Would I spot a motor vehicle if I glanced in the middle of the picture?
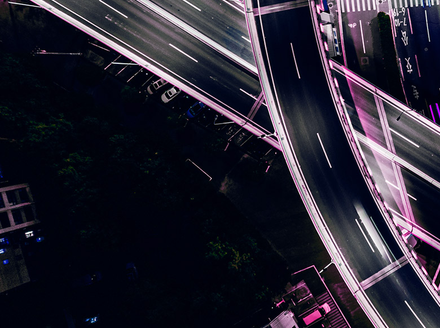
Yes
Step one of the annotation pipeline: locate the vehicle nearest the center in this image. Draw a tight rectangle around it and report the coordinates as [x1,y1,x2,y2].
[217,123,240,141]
